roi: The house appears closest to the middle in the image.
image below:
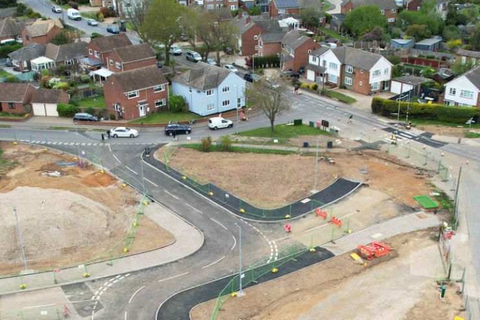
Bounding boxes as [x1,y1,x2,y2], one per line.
[175,60,251,117]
